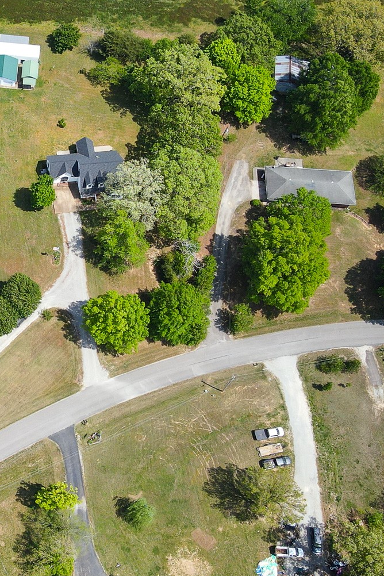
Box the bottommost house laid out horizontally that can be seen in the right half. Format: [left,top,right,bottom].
[262,166,356,215]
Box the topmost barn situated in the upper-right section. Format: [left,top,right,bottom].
[268,51,309,102]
